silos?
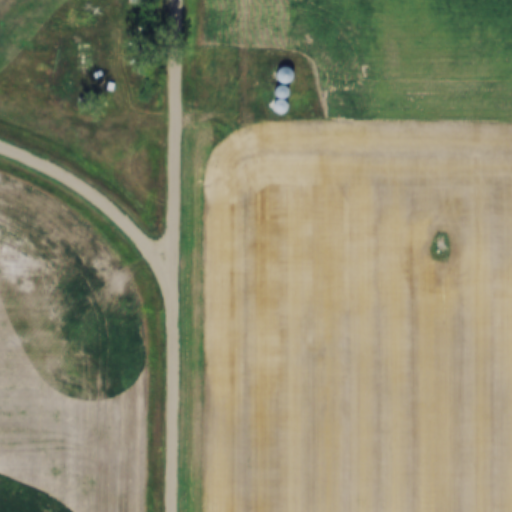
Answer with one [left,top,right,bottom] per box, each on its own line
[274,85,290,100]
[276,66,295,86]
[273,100,289,116]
